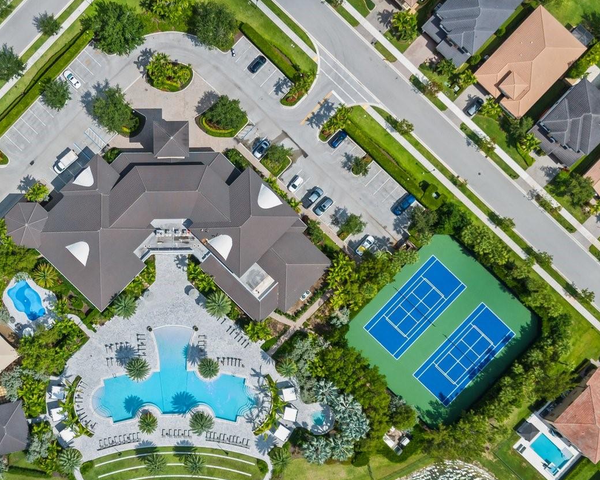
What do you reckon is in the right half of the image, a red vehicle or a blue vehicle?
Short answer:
blue vehicle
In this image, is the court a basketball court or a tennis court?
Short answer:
tennis court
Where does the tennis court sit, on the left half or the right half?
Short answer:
right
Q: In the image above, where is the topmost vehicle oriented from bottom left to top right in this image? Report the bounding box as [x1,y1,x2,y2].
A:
[248,54,267,74]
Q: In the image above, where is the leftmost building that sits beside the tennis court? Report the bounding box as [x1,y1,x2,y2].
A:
[5,121,331,321]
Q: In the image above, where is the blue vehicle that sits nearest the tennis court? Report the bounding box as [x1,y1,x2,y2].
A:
[393,193,417,216]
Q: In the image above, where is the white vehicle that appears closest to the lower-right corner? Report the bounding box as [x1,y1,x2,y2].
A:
[354,233,376,254]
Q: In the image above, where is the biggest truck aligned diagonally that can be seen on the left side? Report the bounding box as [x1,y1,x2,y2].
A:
[54,145,78,173]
